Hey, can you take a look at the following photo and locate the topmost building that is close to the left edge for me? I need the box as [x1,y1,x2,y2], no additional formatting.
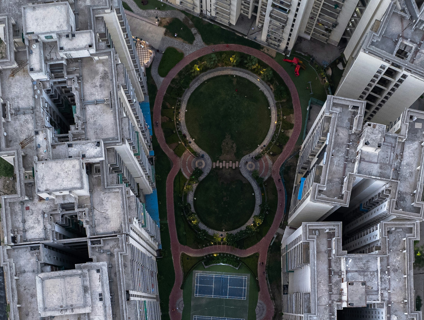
[0,0,165,260]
